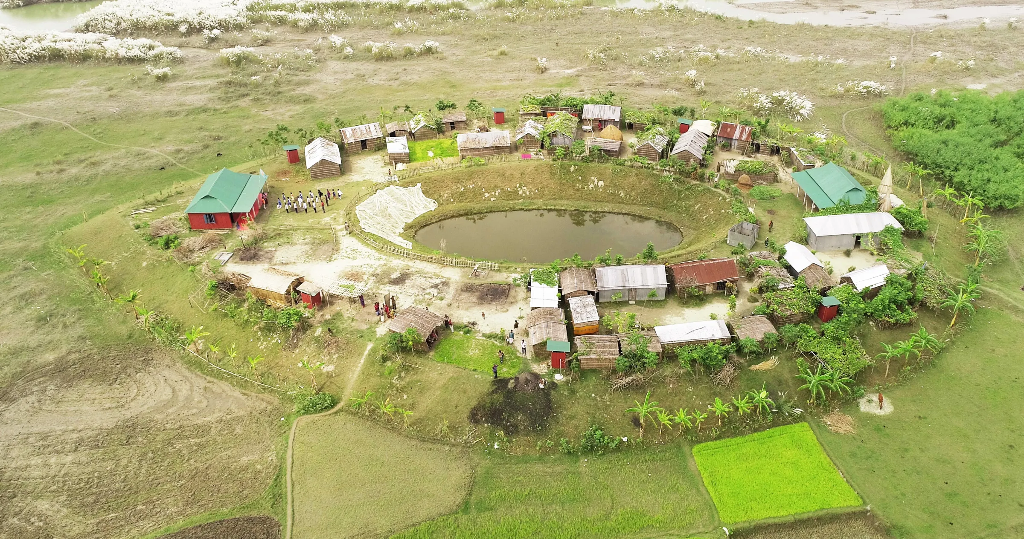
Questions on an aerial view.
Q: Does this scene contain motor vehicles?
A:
No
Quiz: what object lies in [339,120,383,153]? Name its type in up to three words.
shed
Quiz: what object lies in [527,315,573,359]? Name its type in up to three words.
shed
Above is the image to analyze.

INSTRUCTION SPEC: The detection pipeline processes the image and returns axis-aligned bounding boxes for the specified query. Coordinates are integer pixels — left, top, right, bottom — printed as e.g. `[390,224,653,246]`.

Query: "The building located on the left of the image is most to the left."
[183,165,267,229]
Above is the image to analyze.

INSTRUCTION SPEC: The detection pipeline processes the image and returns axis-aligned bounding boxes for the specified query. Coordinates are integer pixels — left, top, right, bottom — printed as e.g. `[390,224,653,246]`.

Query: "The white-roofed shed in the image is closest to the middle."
[523,276,564,314]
